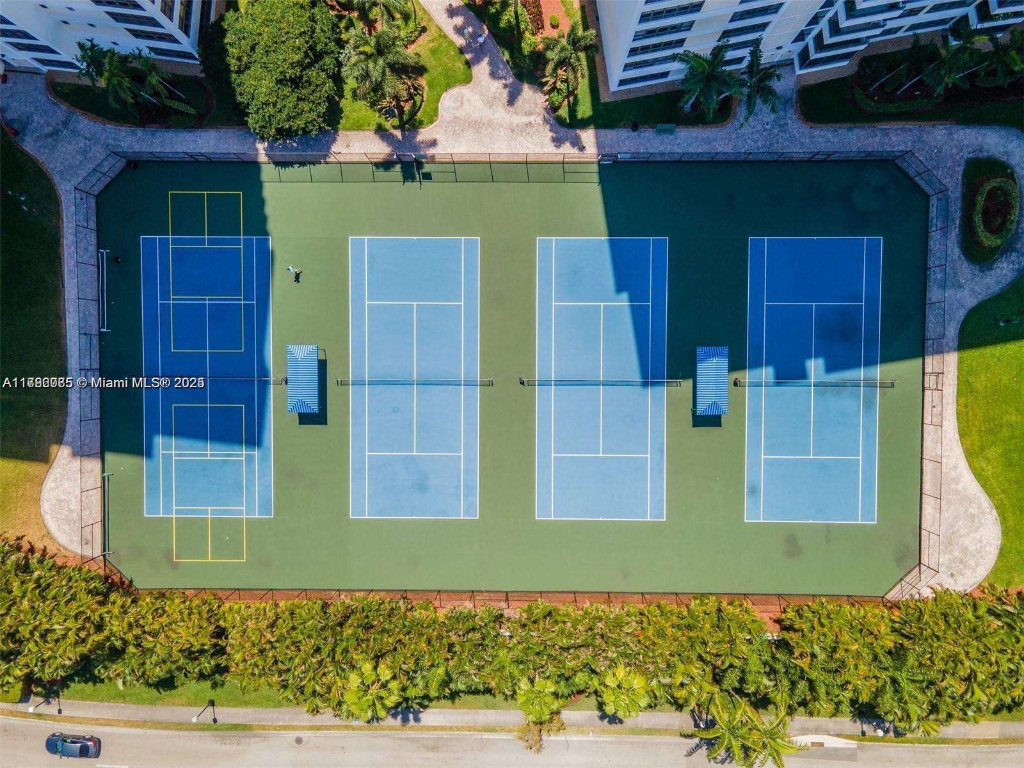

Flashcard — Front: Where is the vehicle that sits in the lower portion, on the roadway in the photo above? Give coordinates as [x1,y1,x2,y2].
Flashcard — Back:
[47,730,99,758]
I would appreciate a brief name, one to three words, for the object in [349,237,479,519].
tennis court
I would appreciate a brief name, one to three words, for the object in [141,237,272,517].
tennis court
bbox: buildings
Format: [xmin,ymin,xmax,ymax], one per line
[596,0,1024,91]
[0,0,215,74]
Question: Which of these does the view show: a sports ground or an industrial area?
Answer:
sports ground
